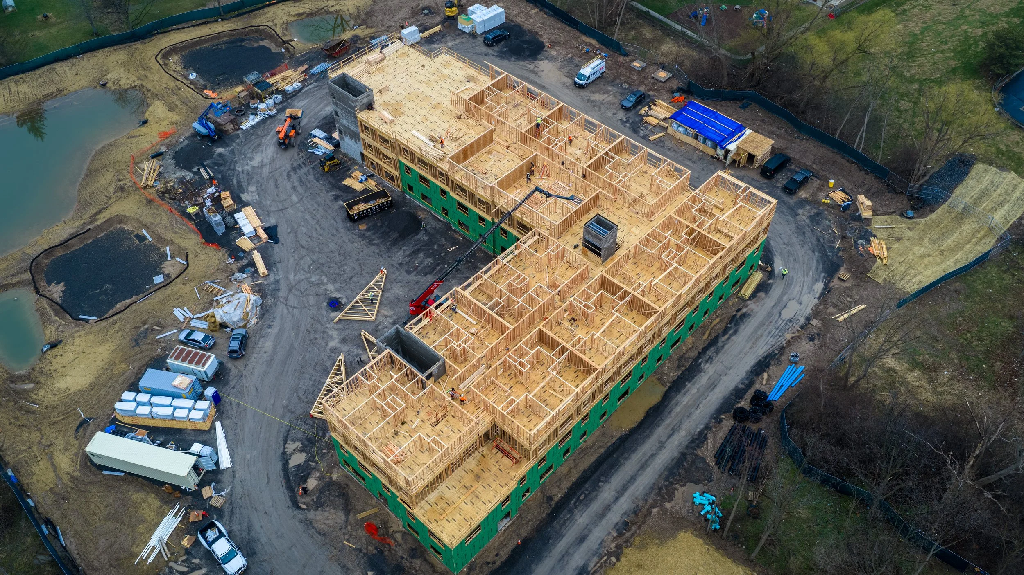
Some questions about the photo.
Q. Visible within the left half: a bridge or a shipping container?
shipping container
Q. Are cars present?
Yes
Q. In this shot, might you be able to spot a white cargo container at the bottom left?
Yes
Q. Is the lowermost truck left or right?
left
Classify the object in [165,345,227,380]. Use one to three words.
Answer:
trailer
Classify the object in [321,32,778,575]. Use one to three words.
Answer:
building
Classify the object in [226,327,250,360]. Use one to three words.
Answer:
car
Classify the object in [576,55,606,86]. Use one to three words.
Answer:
van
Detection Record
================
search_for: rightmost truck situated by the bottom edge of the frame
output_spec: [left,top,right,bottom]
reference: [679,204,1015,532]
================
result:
[203,520,246,575]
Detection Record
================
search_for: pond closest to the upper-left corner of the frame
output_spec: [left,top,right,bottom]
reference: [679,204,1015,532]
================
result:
[0,89,150,257]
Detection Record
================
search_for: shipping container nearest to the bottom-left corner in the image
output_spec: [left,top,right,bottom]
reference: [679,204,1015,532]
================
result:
[84,430,209,488]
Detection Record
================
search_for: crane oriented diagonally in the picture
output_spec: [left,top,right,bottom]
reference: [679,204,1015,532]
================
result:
[398,184,582,331]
